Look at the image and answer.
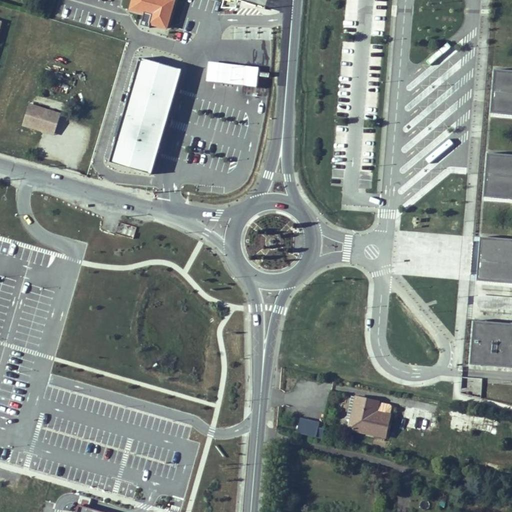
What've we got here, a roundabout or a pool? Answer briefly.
roundabout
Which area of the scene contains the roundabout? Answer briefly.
center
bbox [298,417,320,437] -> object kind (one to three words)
shed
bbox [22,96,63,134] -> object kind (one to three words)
barn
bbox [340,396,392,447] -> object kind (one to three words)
house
